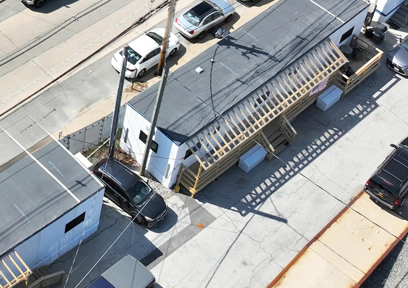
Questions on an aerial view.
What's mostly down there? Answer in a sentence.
The bulk of the photo consists of paved ground.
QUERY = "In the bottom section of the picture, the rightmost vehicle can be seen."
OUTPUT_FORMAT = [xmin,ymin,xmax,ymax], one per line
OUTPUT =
[363,131,408,218]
